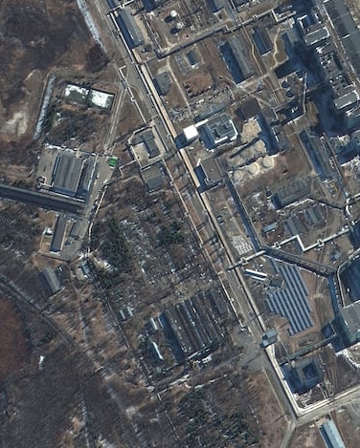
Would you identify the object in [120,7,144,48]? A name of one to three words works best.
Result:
building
